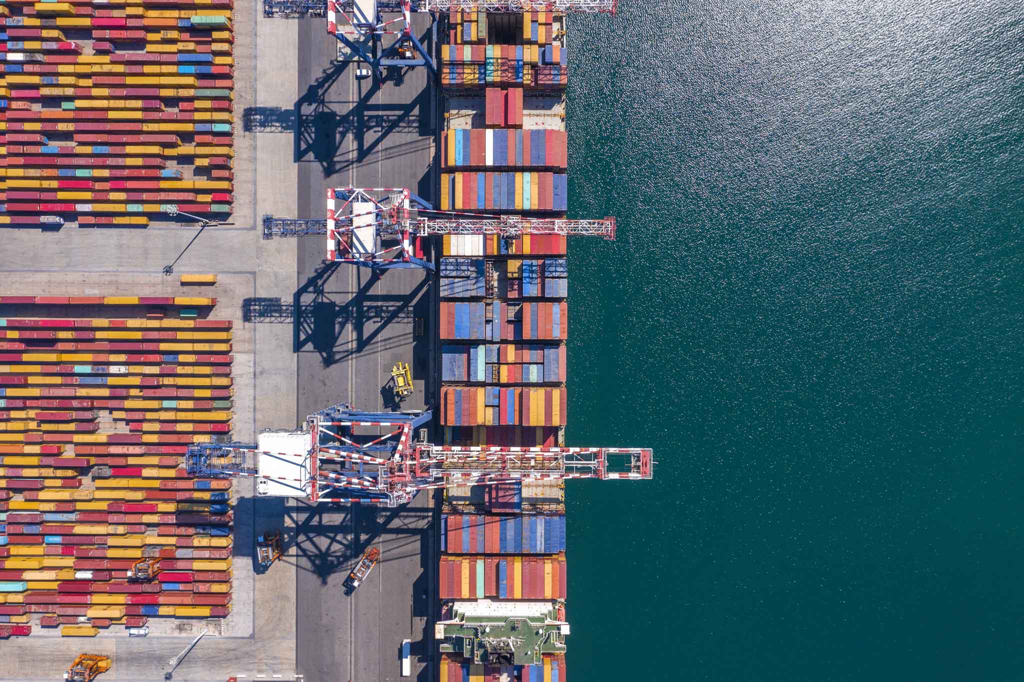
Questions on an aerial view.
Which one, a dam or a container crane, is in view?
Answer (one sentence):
I can see a container crane in this picture.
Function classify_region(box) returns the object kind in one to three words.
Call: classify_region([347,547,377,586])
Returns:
work vehicle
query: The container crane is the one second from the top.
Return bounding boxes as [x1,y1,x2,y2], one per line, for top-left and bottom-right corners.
[260,188,616,286]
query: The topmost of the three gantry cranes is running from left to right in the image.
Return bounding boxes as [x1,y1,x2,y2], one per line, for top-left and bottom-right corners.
[260,0,616,97]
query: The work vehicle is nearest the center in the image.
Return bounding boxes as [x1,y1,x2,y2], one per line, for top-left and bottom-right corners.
[393,365,418,398]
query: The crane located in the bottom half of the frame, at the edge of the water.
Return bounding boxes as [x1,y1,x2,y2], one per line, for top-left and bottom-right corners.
[184,397,662,513]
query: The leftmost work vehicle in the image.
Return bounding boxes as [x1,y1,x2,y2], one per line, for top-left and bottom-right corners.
[67,652,112,682]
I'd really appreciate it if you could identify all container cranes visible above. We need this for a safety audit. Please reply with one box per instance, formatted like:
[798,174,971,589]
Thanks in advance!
[184,397,662,513]
[260,0,616,97]
[260,188,616,286]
